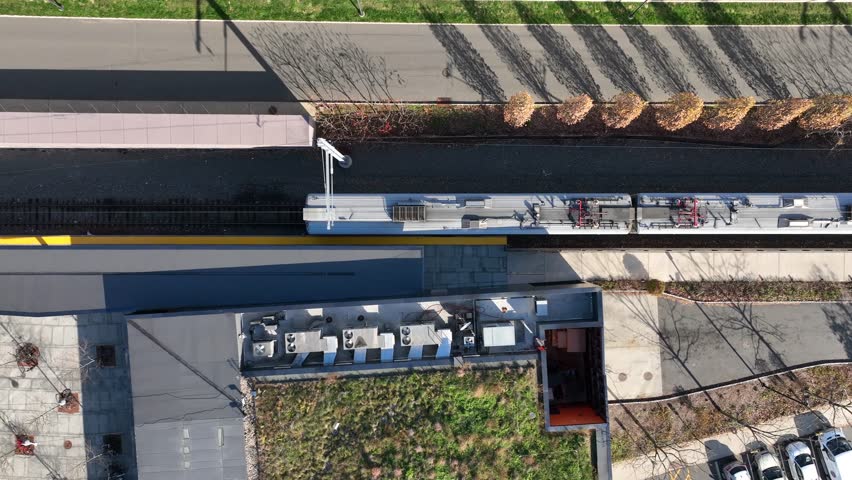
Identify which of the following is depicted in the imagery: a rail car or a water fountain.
rail car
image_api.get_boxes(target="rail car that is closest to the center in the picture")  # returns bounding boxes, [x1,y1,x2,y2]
[304,194,634,235]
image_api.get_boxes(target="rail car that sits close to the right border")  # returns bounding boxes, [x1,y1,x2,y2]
[627,194,852,235]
